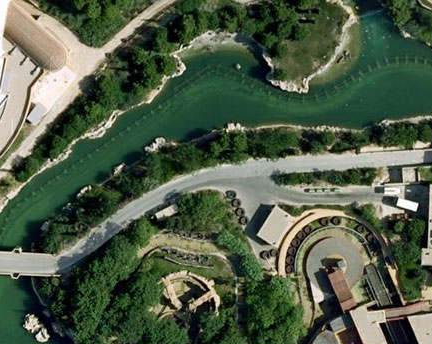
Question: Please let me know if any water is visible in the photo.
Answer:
Yes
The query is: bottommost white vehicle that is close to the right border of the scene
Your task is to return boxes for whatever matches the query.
[394,198,418,210]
